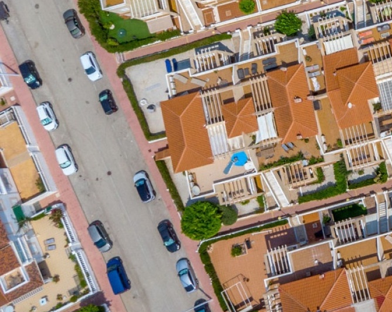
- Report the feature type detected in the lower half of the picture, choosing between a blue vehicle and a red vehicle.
blue vehicle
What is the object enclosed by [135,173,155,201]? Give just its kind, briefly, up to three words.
car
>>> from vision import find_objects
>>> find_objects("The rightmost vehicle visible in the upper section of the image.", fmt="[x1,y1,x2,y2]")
[100,90,119,115]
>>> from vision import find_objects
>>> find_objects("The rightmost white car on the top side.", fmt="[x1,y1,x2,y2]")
[83,53,101,80]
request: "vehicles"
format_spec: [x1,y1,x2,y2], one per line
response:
[88,220,112,251]
[83,53,101,80]
[135,173,155,201]
[36,101,58,131]
[100,90,119,115]
[20,61,42,89]
[196,300,210,312]
[57,146,77,174]
[65,10,85,36]
[107,258,129,293]
[178,259,198,291]
[159,222,179,250]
